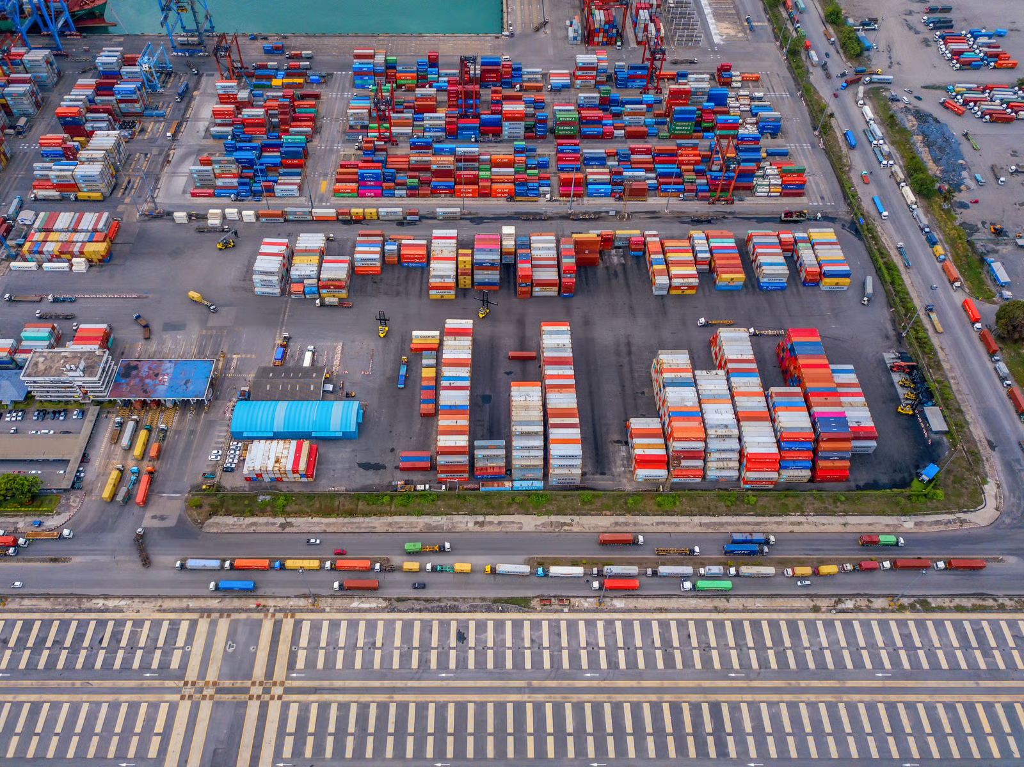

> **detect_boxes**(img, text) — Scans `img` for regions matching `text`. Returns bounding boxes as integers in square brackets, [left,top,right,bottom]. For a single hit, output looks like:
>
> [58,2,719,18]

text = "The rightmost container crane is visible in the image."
[705,131,742,200]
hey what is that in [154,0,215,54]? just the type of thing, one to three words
container crane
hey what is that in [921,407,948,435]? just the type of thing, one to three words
shed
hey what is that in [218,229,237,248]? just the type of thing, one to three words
work vehicle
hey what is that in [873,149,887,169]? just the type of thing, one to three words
vehicle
